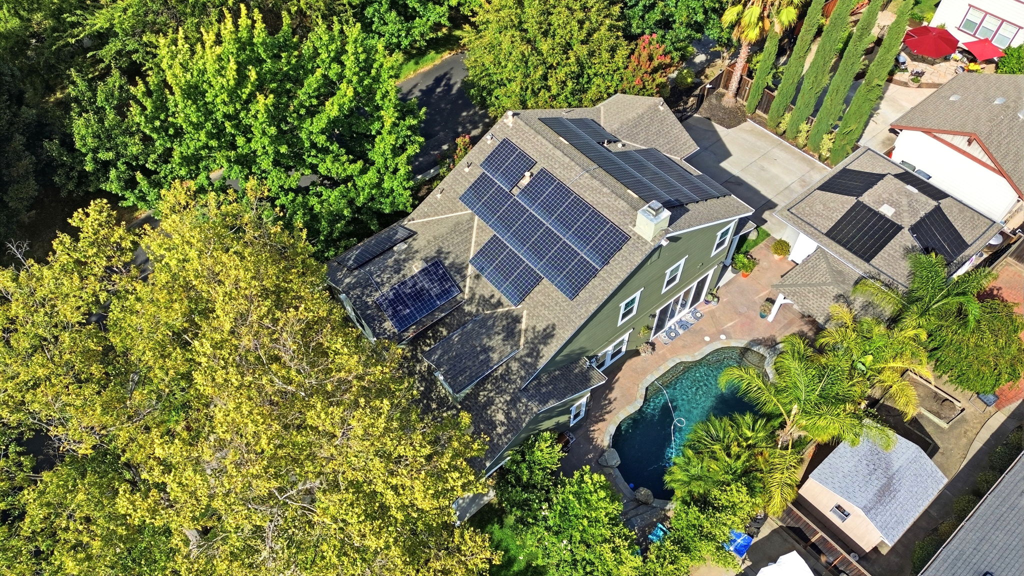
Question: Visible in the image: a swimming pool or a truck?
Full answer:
The one in the frame is a swimming pool.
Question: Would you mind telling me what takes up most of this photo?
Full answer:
The largest share of the image is taken up by trees.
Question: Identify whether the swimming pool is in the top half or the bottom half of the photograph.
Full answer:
Seen from above, the swimming pool lies in the bottom half of the view.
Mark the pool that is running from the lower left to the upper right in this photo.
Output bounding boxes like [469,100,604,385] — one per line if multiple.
[604,340,777,545]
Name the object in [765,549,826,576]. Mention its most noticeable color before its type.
white tent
